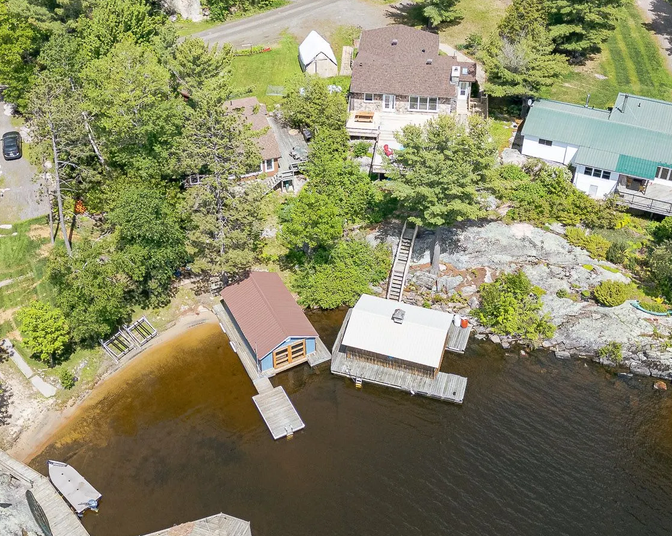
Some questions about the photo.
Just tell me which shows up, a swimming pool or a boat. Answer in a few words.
boat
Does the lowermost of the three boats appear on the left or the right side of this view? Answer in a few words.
left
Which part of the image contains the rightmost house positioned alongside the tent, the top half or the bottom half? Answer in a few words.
top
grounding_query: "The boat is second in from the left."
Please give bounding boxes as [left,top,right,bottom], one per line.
[43,452,102,512]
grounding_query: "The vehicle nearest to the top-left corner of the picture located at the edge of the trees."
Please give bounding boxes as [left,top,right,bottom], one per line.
[0,129,25,161]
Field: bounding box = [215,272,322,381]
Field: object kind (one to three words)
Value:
building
